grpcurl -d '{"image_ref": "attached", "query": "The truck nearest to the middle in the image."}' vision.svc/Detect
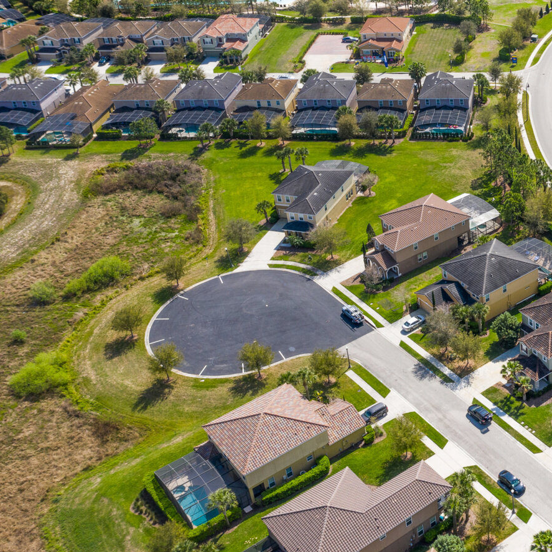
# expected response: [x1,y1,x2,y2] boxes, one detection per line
[341,303,366,324]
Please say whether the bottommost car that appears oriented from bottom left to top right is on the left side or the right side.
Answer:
right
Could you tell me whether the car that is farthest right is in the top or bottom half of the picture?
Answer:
bottom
